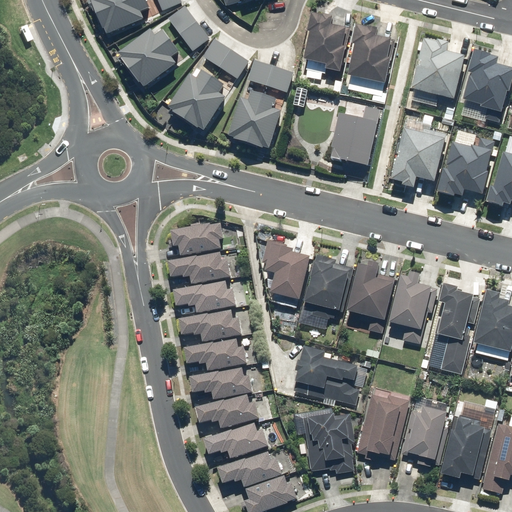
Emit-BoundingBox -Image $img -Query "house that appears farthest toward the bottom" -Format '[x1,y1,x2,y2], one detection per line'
[248,474,306,512]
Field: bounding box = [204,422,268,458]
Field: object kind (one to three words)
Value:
house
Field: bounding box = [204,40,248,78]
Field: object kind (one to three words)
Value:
building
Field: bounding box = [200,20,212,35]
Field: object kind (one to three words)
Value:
vehicle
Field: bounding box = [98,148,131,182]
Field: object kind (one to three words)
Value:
roundabout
